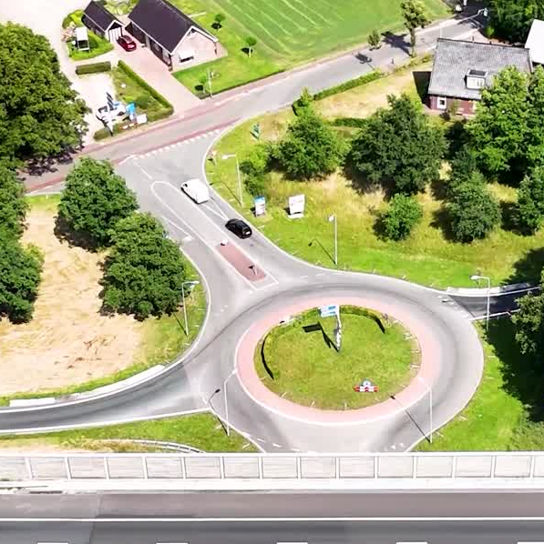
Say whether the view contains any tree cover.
Yes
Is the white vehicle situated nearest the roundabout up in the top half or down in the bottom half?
top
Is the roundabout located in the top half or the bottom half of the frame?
bottom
